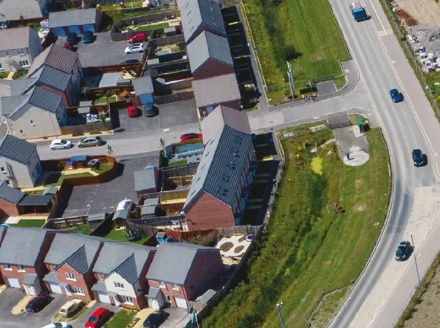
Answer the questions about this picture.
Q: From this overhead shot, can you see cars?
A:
Yes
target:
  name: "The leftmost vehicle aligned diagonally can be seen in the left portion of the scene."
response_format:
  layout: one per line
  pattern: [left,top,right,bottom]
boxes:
[23,288,55,313]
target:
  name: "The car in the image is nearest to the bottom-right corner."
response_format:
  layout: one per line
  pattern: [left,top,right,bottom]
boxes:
[393,235,411,258]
